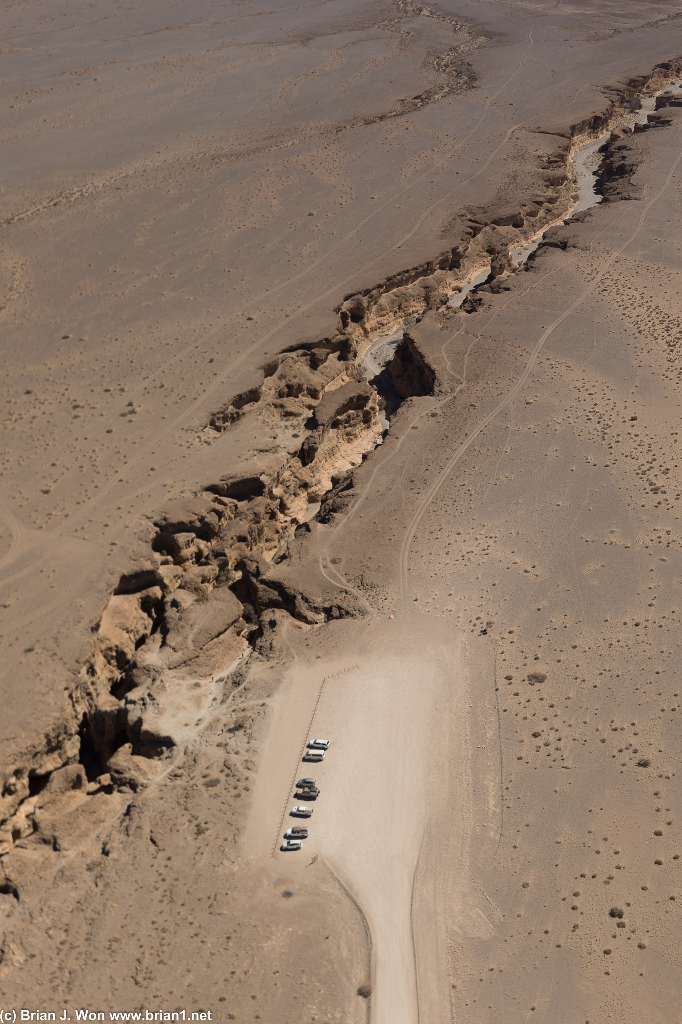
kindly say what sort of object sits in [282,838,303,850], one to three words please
vehicle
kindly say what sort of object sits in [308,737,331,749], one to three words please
vehicle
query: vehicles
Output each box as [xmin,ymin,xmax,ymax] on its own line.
[284,825,309,837]
[297,777,316,787]
[308,737,331,749]
[289,804,313,816]
[282,838,303,850]
[294,785,318,797]
[304,748,325,759]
